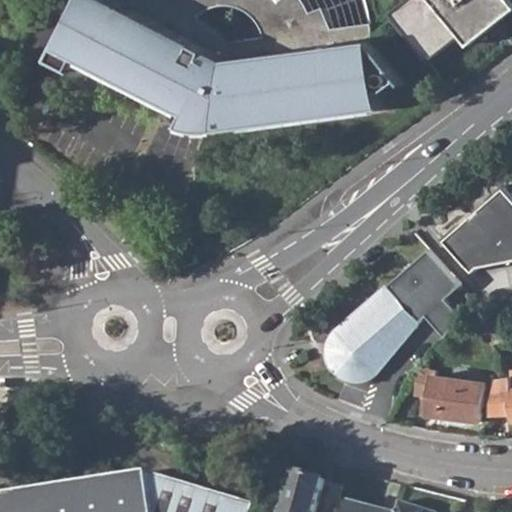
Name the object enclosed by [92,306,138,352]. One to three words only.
roundabout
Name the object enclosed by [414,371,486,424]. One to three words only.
house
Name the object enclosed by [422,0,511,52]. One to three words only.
building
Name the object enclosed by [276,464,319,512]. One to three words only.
house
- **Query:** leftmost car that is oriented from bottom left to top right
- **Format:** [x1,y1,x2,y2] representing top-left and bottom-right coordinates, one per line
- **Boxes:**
[260,314,283,331]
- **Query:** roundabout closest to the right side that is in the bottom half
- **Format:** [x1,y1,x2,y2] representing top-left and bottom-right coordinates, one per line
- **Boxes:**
[202,309,247,354]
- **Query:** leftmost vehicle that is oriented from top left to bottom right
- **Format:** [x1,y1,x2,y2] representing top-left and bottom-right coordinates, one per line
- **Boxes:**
[255,364,274,386]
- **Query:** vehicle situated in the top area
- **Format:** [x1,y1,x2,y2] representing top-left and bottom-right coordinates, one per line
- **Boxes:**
[420,140,442,159]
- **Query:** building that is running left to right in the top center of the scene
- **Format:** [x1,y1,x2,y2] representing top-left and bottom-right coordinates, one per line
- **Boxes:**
[37,0,371,140]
